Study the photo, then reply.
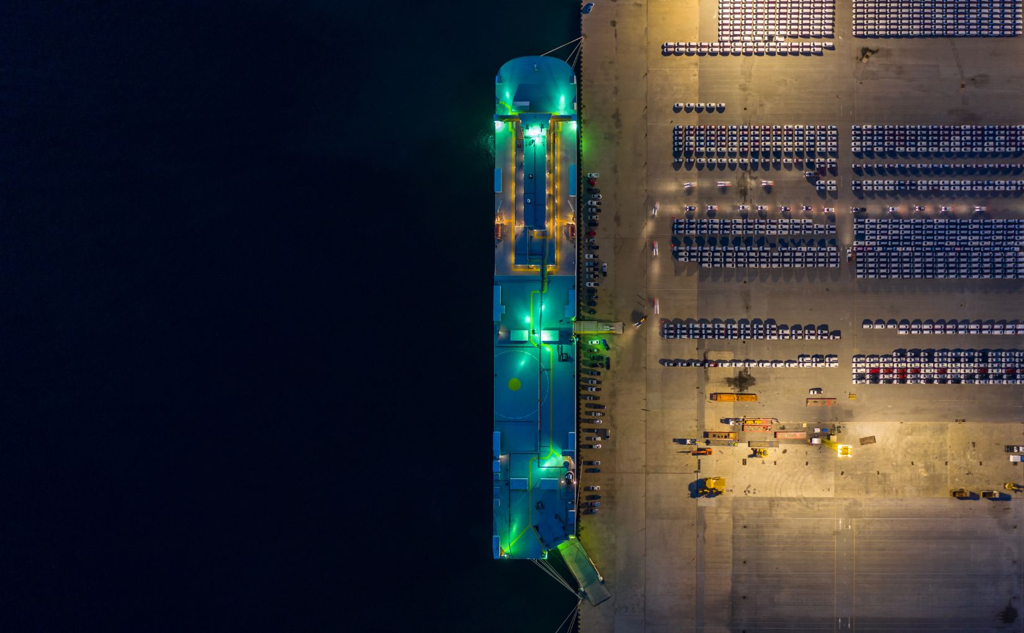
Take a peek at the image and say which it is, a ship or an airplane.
ship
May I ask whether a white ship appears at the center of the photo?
No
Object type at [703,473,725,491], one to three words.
vehicle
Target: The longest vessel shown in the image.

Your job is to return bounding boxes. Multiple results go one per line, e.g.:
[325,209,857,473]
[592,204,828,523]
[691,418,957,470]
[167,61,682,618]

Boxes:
[493,55,623,606]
